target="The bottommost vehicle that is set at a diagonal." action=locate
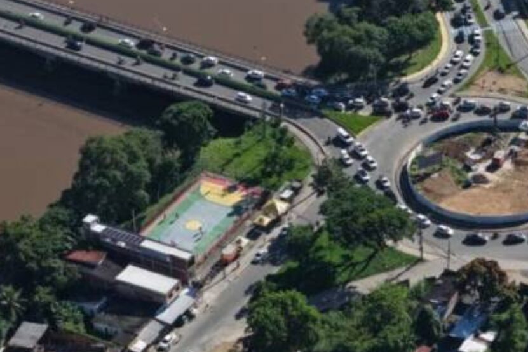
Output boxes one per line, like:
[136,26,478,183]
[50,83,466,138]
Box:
[157,332,177,351]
